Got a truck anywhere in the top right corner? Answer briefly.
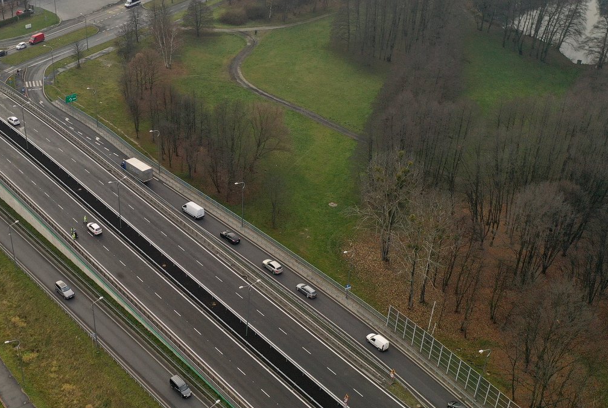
No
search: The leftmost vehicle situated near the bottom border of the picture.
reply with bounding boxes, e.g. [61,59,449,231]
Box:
[167,374,192,397]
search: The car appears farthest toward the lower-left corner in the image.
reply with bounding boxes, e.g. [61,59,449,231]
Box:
[54,279,74,298]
